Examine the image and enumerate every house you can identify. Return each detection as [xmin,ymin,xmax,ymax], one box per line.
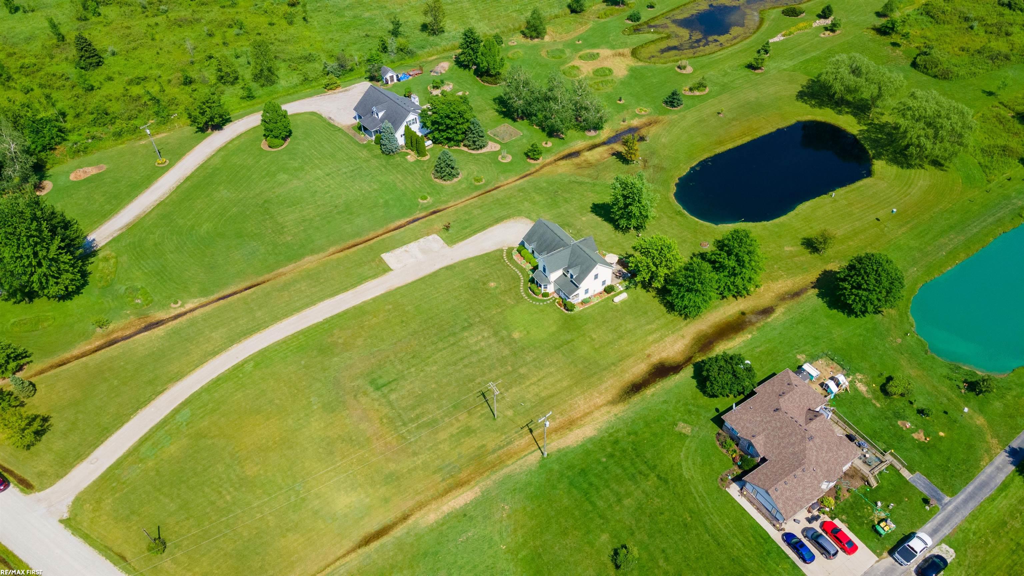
[353,85,428,146]
[522,218,615,303]
[720,368,860,529]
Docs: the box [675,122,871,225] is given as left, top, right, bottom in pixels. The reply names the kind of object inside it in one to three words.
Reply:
pond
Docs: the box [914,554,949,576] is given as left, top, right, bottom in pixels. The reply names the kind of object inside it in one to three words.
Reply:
car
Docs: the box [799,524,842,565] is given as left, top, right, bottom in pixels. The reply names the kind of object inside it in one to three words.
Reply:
car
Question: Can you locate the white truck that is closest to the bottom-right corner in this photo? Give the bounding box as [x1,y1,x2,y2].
[890,532,935,572]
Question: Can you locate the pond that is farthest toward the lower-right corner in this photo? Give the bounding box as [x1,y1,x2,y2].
[909,225,1024,375]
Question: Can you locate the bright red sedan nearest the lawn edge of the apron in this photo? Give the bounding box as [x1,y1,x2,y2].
[818,518,863,559]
